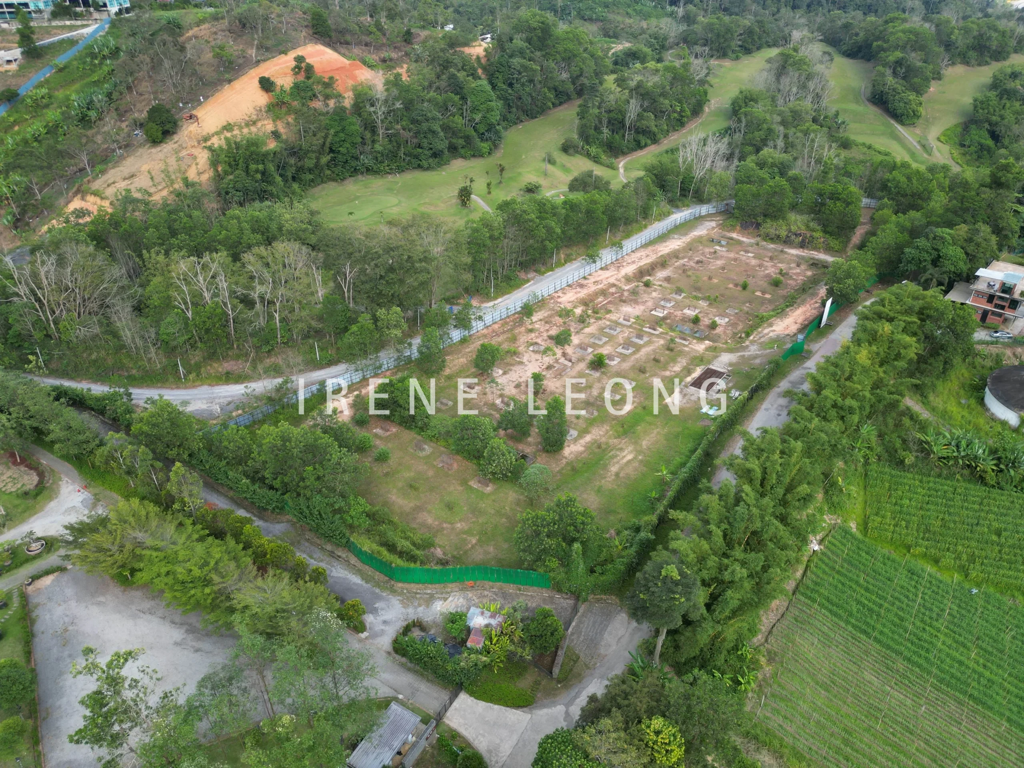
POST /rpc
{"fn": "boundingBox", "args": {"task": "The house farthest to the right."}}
[922,258,1024,330]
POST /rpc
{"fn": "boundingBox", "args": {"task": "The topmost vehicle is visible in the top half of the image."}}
[181,108,204,122]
